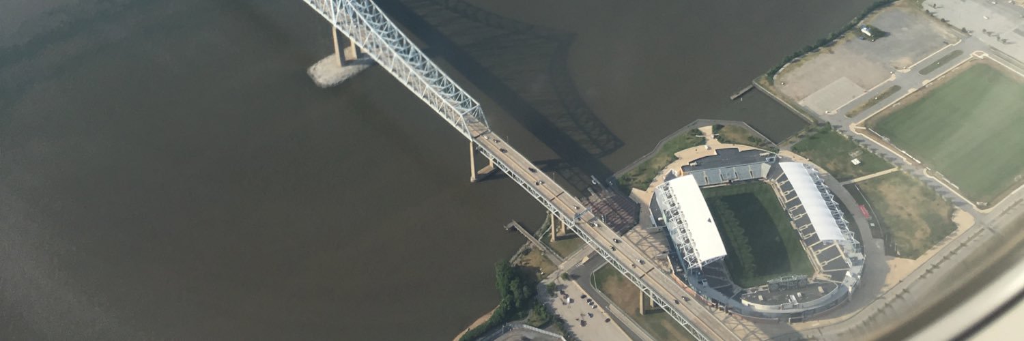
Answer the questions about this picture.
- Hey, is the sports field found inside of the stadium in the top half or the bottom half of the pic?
bottom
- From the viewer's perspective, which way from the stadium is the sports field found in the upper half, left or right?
right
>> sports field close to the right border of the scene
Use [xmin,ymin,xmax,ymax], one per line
[862,57,1024,208]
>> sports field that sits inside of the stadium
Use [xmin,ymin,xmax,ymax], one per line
[701,179,815,287]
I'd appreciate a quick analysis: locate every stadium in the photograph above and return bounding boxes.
[646,151,865,322]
